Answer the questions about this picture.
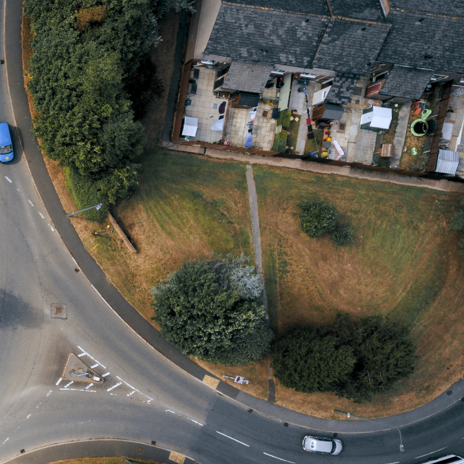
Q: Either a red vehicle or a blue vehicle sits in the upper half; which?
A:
blue vehicle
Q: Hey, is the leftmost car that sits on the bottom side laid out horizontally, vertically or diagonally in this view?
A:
horizontally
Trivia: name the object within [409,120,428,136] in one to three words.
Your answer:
trampoline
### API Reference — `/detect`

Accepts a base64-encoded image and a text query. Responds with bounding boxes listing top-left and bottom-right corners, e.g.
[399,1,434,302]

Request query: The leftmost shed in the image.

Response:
[178,116,199,139]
